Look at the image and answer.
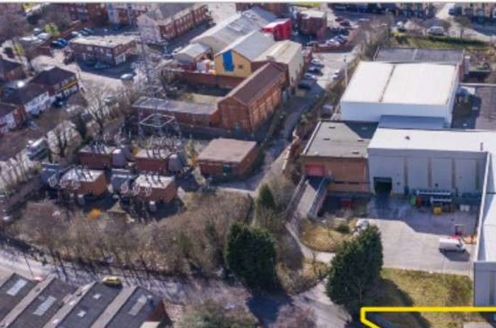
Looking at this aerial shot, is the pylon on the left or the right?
left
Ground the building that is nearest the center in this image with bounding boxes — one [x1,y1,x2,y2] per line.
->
[198,141,259,180]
